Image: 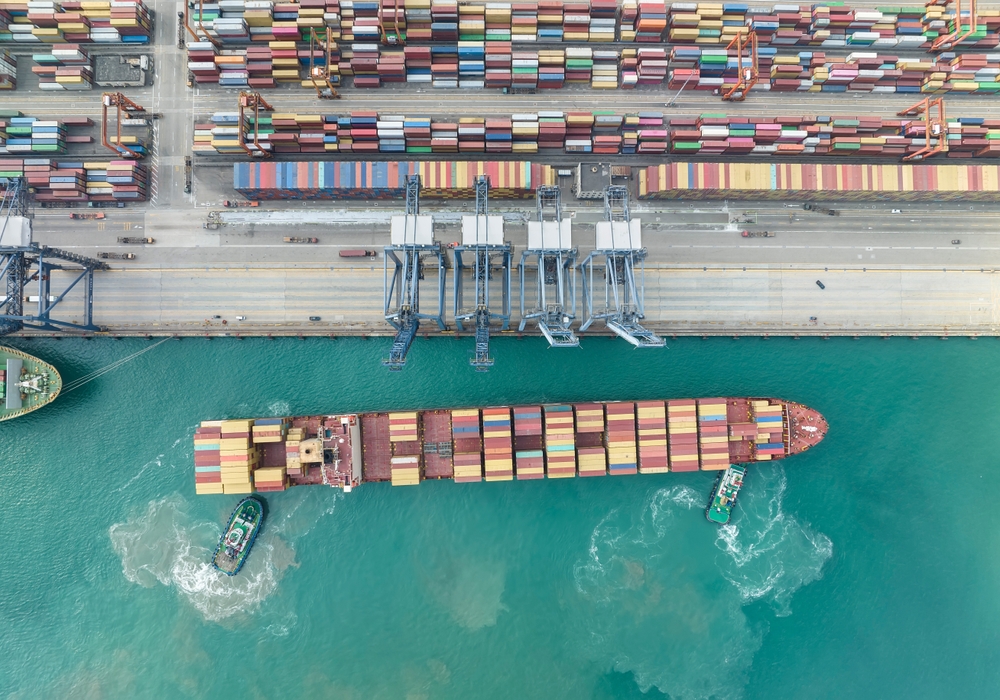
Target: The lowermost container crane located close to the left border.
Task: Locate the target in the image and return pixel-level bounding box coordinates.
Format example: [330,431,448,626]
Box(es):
[0,172,120,334]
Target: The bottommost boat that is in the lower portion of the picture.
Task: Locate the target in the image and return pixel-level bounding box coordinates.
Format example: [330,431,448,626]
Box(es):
[213,496,263,578]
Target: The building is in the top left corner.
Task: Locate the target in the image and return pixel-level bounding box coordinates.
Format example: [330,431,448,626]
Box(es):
[95,55,148,89]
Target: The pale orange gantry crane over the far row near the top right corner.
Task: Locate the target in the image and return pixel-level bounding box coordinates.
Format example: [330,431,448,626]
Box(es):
[925,0,976,53]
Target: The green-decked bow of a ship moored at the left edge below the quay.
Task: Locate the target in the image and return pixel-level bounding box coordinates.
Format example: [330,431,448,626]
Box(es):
[0,345,85,421]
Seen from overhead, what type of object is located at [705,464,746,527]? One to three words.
boat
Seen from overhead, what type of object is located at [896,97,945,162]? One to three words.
container crane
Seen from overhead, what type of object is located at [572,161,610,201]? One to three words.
building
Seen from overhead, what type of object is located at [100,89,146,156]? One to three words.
container crane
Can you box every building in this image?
[95,55,148,89]
[572,161,610,201]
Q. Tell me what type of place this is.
port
